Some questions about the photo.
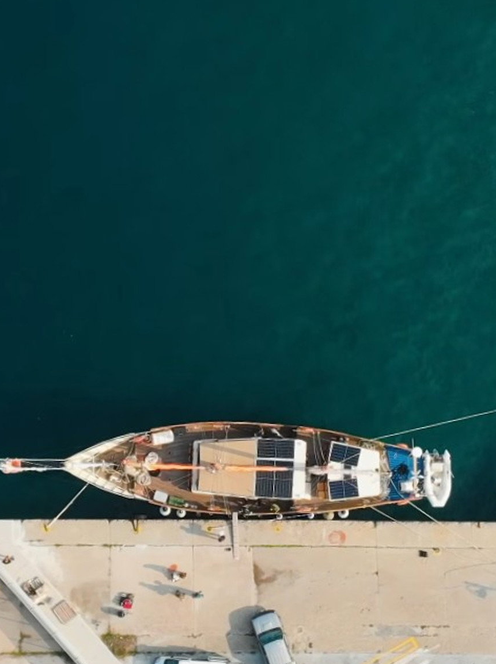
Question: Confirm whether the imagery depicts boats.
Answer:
Yes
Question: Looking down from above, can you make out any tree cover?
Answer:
No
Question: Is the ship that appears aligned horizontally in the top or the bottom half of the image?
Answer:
bottom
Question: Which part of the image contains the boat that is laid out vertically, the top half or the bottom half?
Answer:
bottom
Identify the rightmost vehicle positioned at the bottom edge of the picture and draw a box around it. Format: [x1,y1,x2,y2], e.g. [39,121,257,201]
[251,605,295,664]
